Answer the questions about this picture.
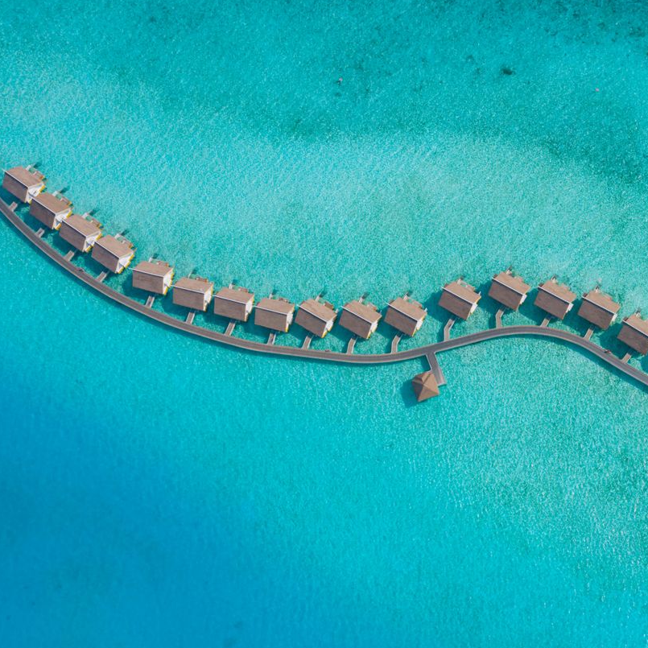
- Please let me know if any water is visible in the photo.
Yes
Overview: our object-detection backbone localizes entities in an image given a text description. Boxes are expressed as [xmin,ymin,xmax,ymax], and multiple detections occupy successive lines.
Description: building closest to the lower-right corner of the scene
[616,309,648,356]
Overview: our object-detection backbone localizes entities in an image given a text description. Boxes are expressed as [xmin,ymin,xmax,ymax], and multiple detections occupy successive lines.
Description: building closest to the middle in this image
[295,294,339,339]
